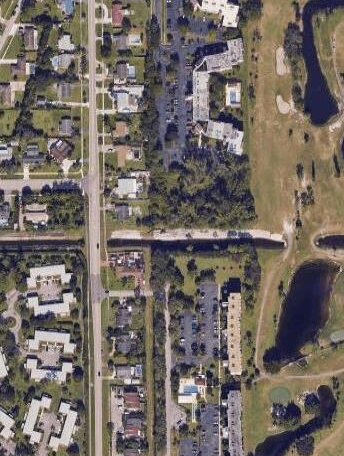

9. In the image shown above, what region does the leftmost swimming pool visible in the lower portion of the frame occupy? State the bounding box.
[178,378,205,403]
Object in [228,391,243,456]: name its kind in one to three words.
building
